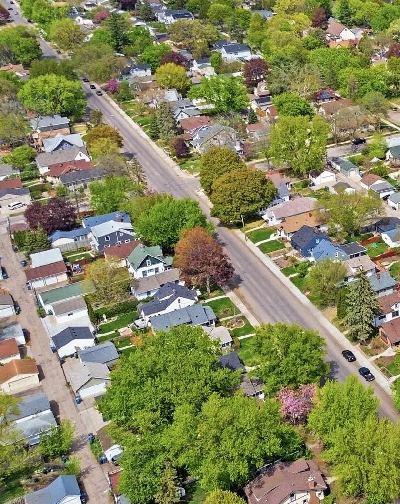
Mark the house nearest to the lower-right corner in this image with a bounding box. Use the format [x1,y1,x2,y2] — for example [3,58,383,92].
[244,455,334,504]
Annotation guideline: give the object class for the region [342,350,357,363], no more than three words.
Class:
vehicle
